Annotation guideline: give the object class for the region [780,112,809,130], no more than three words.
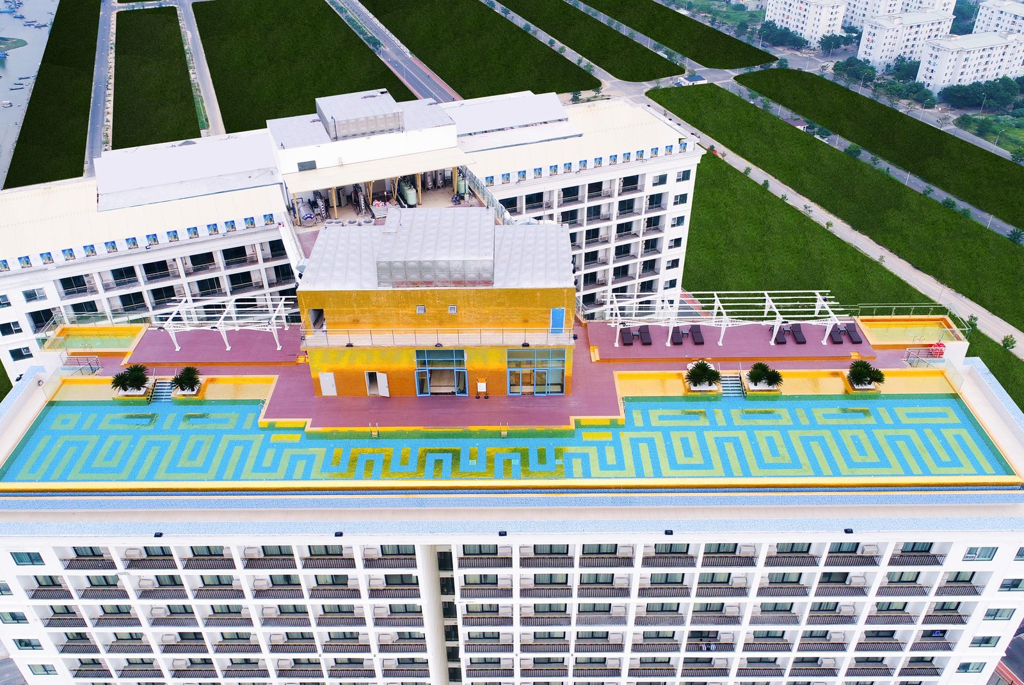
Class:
shed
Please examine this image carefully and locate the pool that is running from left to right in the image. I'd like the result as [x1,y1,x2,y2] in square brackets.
[0,360,1024,510]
